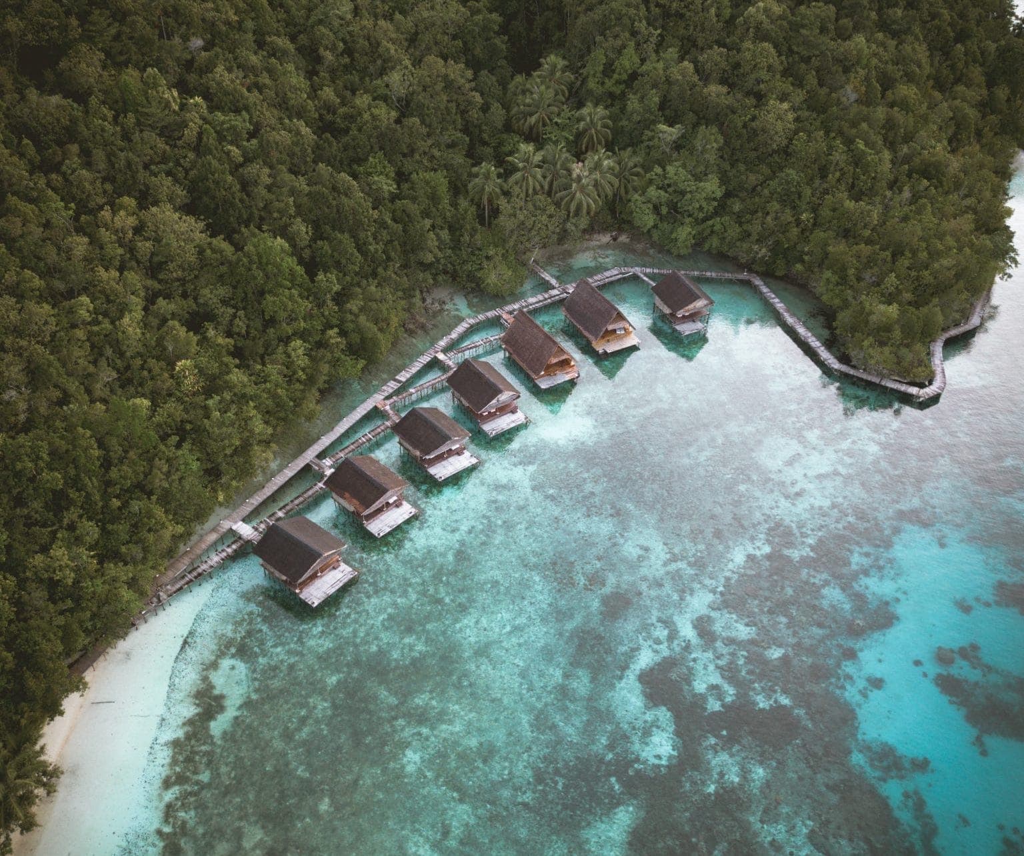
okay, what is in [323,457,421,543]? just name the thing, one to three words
shed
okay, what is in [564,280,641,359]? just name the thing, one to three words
shed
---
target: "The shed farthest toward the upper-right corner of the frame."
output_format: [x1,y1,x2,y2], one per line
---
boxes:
[651,275,713,345]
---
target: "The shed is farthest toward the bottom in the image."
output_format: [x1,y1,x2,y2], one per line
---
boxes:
[254,515,362,611]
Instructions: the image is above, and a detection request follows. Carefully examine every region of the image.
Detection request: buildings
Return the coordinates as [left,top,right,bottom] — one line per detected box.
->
[651,275,713,345]
[564,280,641,359]
[392,407,479,487]
[323,457,421,543]
[502,311,584,396]
[446,364,529,442]
[254,515,362,611]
